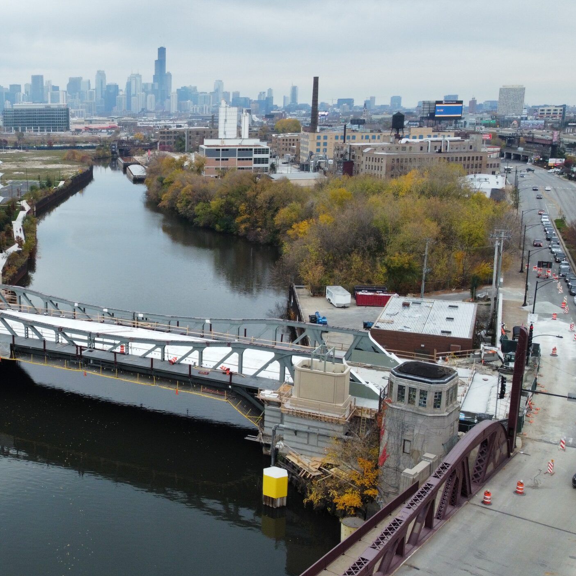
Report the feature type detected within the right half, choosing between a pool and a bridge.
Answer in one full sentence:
It is a bridge that can be seen within the right half.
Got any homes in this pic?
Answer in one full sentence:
Yes, I can see a home in this picture.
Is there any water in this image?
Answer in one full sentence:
Yes, some water is visible.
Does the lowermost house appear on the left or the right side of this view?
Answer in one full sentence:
The lowermost house appears in the right half of the scene.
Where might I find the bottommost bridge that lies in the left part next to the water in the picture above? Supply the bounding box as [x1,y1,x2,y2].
[0,284,395,401]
